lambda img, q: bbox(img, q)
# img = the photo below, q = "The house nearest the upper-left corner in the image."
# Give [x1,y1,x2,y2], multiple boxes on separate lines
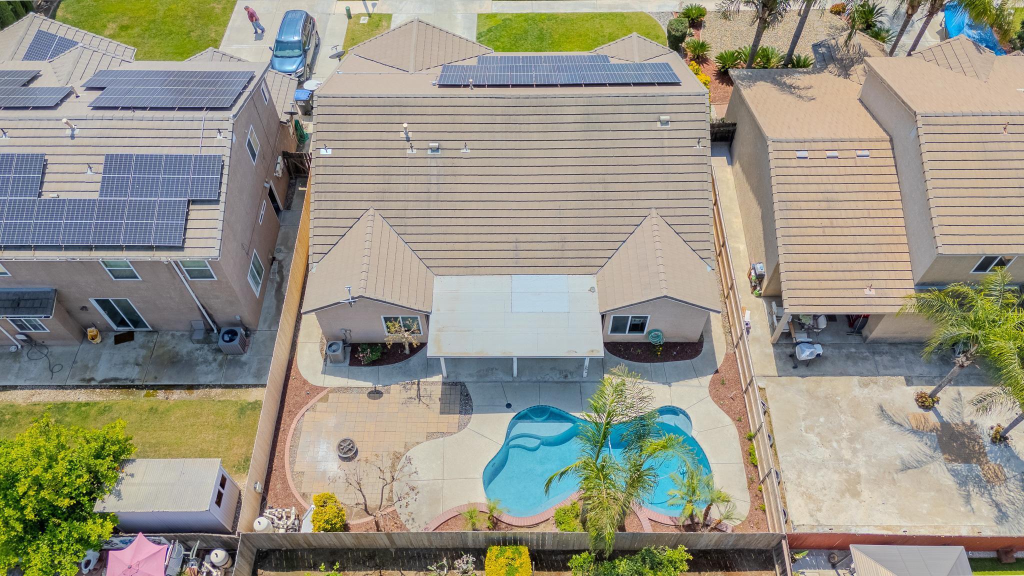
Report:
[0,10,304,349]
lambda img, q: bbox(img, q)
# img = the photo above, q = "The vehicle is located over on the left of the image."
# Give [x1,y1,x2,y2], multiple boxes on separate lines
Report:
[271,15,319,85]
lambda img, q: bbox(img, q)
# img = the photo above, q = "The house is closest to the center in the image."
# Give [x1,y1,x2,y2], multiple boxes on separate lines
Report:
[300,17,724,378]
